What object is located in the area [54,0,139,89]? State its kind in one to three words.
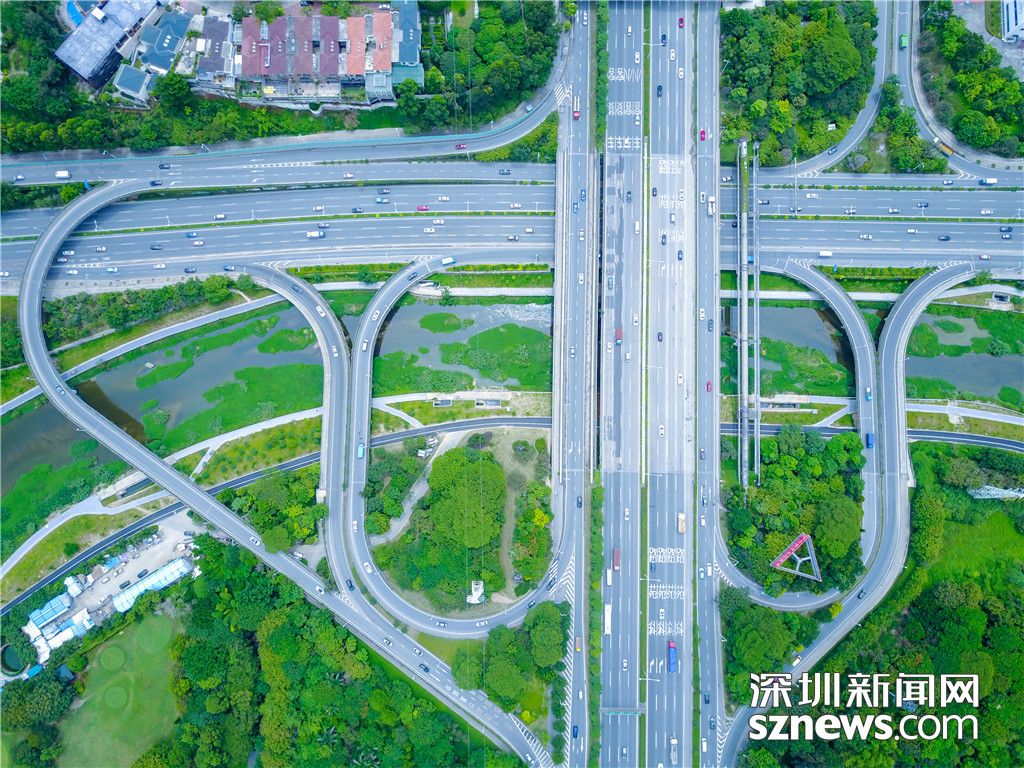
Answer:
building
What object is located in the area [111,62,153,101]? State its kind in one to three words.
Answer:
house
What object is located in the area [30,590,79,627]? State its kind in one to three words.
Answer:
shed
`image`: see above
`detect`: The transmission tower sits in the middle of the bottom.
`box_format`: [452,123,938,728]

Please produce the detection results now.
[465,582,484,606]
